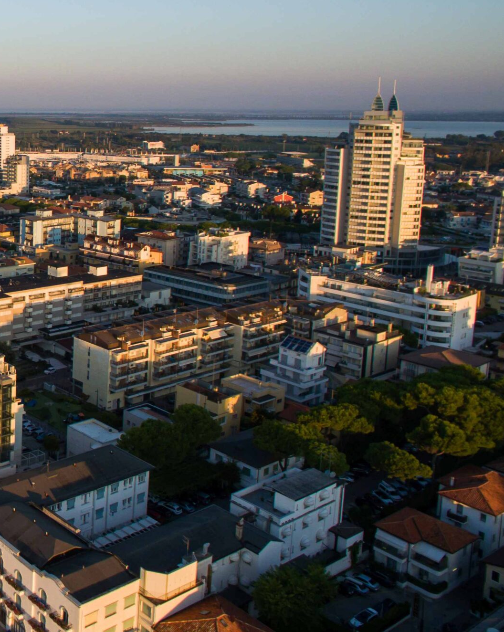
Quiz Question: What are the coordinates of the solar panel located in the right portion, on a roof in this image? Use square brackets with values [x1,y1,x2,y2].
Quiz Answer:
[297,337,325,351]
